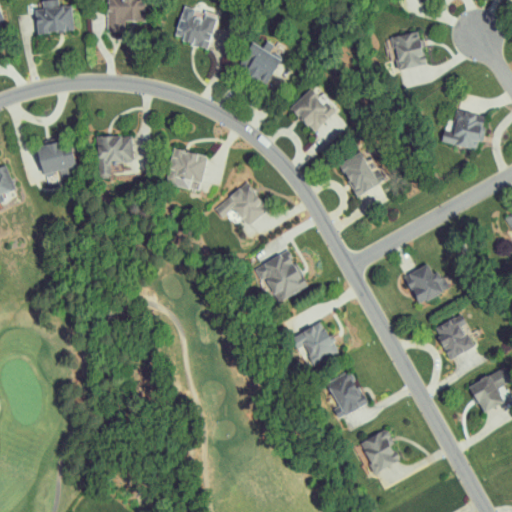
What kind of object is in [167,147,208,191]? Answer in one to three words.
house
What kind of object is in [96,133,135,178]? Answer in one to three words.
house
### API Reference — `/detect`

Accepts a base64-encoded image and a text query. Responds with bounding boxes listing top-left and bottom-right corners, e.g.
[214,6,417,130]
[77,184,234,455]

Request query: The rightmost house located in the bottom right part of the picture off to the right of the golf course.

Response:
[469,372,512,414]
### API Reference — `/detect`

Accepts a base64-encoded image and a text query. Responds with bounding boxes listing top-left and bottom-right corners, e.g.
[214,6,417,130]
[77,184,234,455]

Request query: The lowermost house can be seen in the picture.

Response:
[360,429,401,477]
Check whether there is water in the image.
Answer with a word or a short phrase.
No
